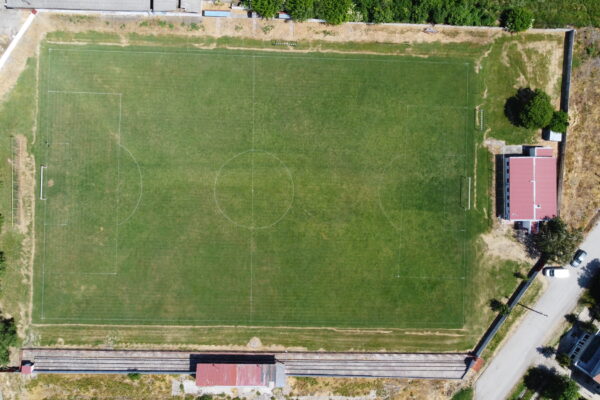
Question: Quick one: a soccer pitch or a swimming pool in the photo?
soccer pitch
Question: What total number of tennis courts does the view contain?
0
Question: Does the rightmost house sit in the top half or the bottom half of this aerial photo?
bottom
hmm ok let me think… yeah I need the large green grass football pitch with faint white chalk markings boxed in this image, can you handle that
[34,46,474,331]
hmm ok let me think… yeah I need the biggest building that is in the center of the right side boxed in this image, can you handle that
[500,148,557,234]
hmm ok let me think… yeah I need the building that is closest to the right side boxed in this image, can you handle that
[568,313,600,380]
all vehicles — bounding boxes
[569,249,586,267]
[546,268,571,278]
